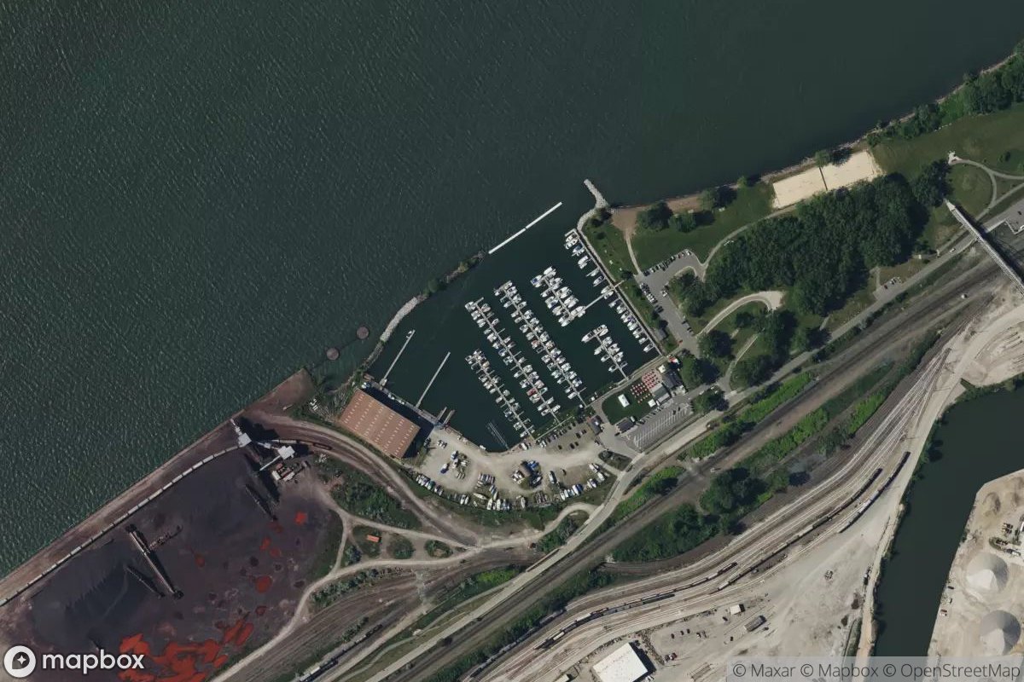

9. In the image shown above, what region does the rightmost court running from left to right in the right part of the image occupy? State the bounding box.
[822,151,883,189]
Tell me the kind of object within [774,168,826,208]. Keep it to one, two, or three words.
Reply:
sports court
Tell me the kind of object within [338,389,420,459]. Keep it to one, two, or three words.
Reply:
building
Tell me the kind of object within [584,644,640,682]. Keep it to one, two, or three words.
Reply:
building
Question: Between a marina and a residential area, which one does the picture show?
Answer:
marina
